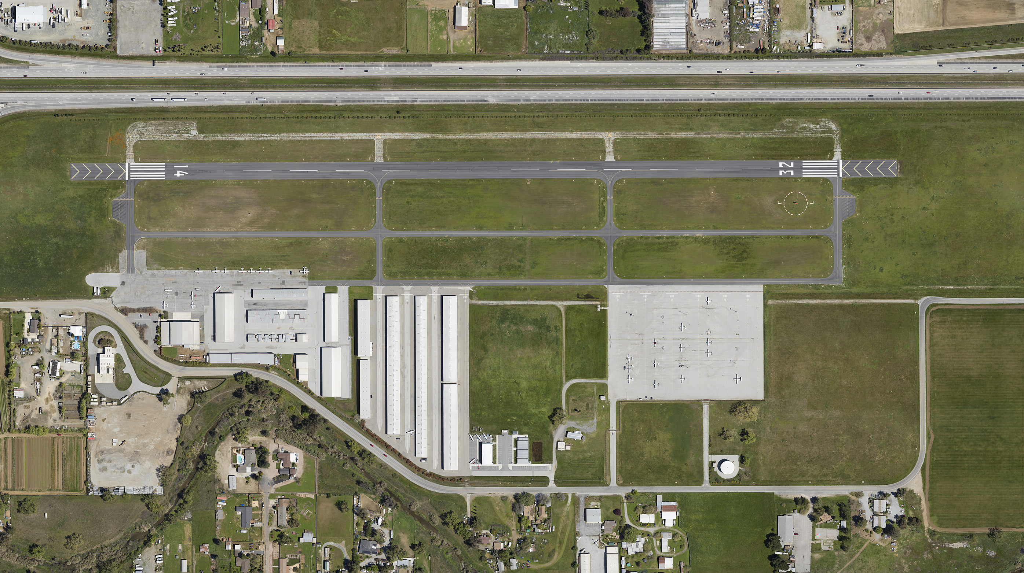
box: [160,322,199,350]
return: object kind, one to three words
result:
hangar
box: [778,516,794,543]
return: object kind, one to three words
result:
building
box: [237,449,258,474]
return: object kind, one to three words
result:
house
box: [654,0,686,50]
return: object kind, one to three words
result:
greenhouse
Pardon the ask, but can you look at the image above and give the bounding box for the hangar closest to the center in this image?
[443,296,457,382]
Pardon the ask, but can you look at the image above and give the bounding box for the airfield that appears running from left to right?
[70,118,897,476]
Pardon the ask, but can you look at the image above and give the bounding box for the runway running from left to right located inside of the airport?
[70,159,897,180]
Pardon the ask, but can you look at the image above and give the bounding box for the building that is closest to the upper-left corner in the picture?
[15,5,46,22]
